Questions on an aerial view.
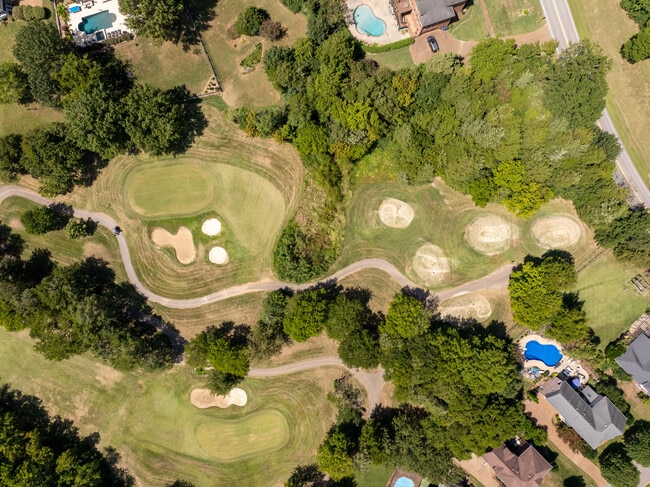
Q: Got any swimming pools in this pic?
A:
Yes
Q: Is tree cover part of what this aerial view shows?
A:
Yes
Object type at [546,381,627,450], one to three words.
house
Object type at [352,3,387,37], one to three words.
swimming pool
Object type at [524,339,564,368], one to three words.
swimming pool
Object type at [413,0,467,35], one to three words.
house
